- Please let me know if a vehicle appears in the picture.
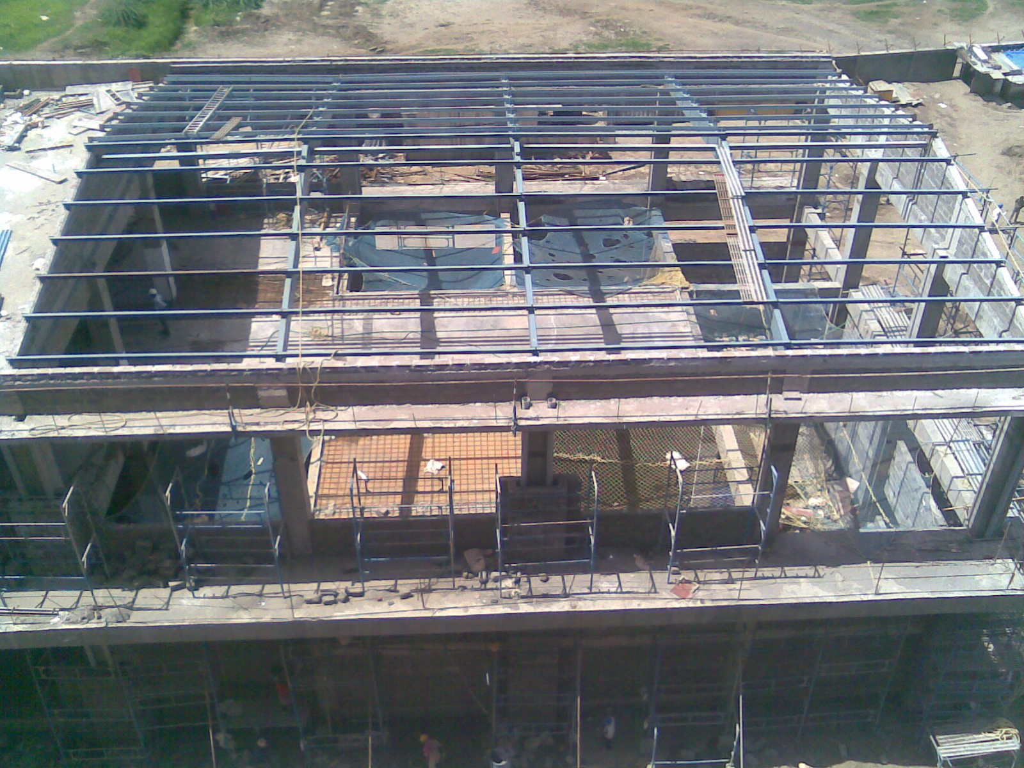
No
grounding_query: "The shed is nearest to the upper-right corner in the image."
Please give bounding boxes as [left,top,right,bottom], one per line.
[949,51,1024,108]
